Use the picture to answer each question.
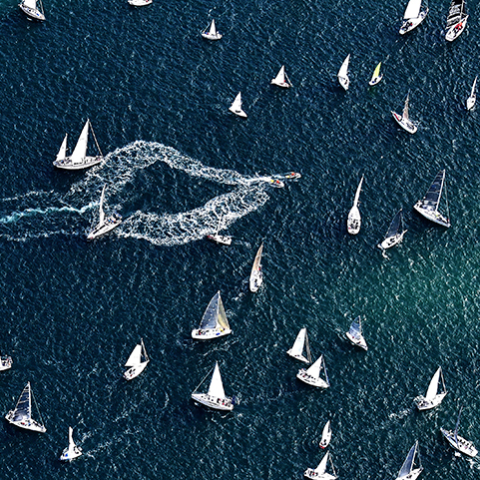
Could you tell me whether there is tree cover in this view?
No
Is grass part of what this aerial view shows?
No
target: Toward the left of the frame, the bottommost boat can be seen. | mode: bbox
[61,429,82,460]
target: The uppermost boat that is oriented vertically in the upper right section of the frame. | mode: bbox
[447,0,468,41]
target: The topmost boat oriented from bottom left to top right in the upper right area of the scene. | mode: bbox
[398,0,428,33]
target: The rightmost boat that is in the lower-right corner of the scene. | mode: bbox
[441,408,479,457]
